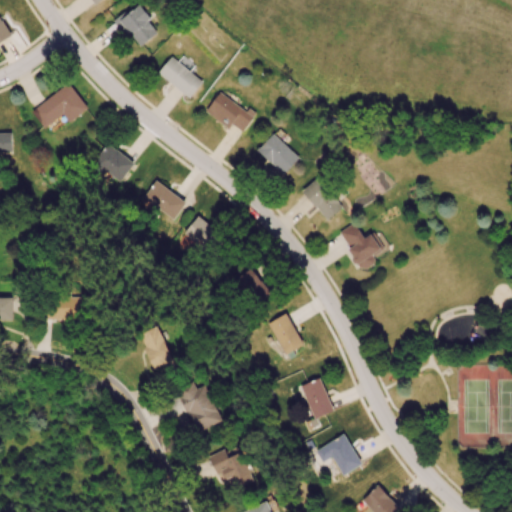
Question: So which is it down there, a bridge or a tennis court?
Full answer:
There is a tennis court in the scene.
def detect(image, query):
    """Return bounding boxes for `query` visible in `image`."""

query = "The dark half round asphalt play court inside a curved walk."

[440,315,479,348]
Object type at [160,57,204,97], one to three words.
house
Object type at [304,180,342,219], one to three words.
house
